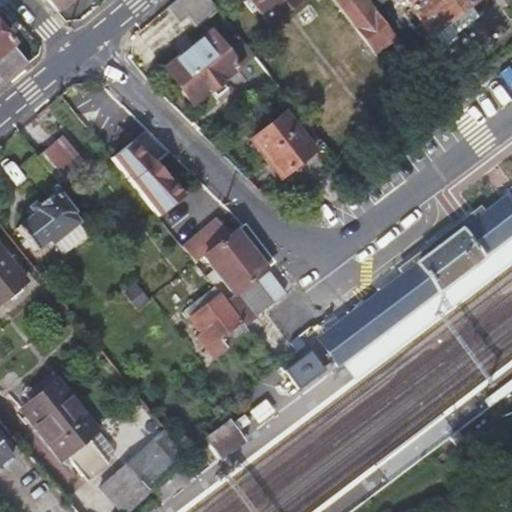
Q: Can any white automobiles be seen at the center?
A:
Yes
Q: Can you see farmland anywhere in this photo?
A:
No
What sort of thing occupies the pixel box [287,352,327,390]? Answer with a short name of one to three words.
building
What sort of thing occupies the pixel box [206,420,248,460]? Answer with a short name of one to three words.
house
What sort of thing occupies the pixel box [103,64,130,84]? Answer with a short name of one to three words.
vehicle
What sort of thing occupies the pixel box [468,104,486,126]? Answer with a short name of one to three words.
car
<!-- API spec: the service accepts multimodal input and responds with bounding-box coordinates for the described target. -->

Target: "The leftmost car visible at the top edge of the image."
[18,8,36,28]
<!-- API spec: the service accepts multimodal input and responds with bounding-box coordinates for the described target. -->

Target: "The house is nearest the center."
[184,216,286,324]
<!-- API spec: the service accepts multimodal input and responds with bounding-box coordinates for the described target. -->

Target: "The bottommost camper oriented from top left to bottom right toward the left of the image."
[0,158,28,188]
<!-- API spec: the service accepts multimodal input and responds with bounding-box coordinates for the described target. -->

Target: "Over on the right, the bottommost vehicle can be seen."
[298,269,320,288]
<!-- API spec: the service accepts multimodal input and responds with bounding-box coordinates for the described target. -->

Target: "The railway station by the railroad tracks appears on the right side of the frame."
[318,187,512,389]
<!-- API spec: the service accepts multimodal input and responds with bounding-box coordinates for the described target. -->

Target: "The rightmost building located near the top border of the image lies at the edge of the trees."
[410,0,480,45]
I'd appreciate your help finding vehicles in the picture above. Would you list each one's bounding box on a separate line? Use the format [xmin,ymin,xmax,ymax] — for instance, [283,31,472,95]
[18,8,36,28]
[500,64,512,88]
[28,482,49,500]
[322,204,340,224]
[399,208,422,229]
[376,172,394,190]
[376,228,400,250]
[489,80,512,108]
[103,64,130,84]
[396,156,413,176]
[356,243,378,262]
[298,269,320,288]
[178,218,198,238]
[0,158,28,188]
[424,135,440,155]
[477,94,498,118]
[340,219,361,236]
[468,104,486,126]
[166,202,188,222]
